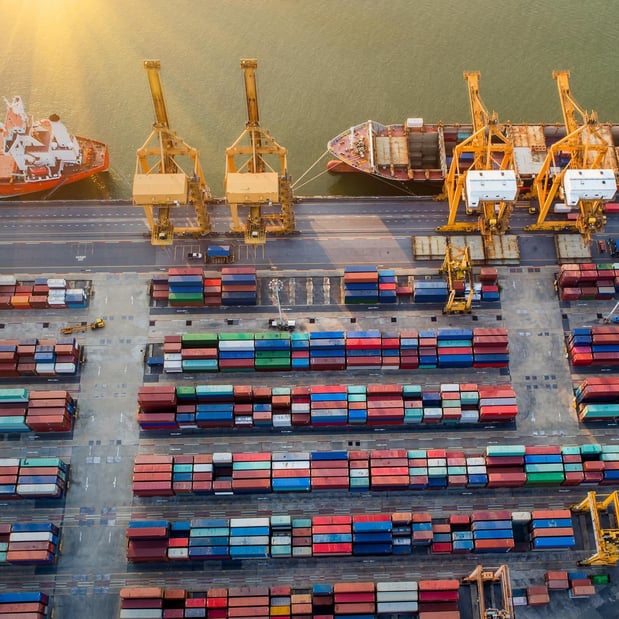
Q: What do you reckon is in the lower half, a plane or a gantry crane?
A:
gantry crane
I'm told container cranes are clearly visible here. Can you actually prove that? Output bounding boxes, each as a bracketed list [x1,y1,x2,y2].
[525,62,619,251]
[458,564,514,619]
[436,63,526,253]
[223,55,300,245]
[434,245,482,316]
[135,56,218,247]
[565,492,619,568]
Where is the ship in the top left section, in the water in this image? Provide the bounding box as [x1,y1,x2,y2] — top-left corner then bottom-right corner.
[0,95,112,199]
